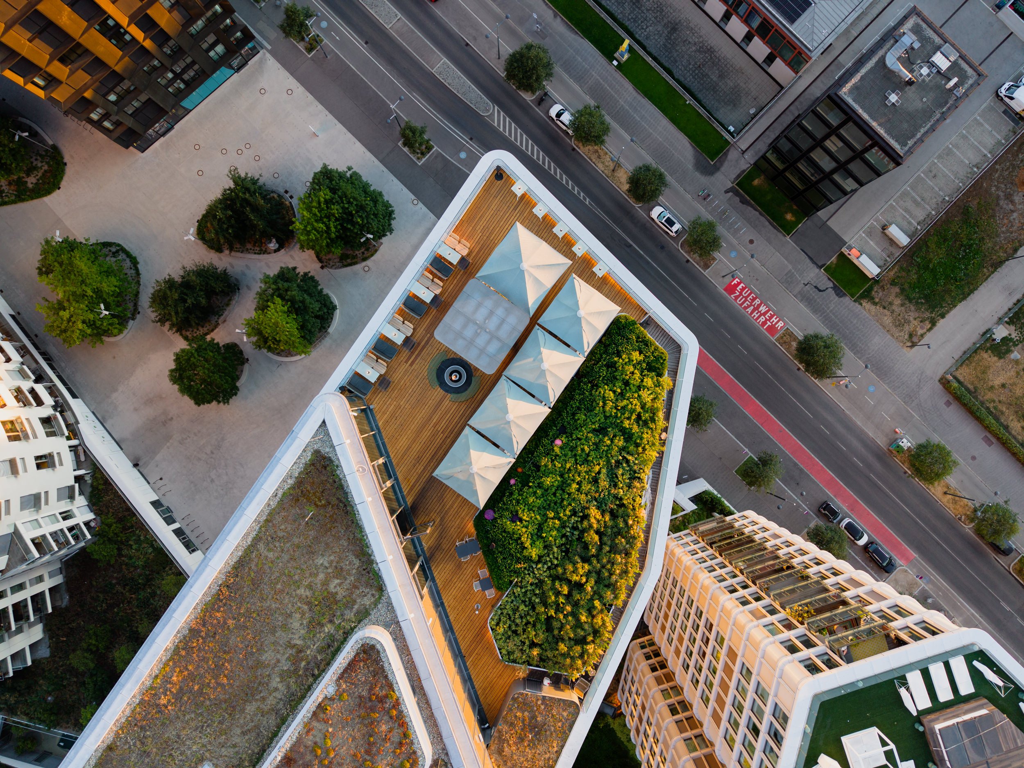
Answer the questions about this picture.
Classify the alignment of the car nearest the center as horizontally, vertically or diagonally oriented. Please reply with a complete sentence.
The car nearest the center is laid out diagonally.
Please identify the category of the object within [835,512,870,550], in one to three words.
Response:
car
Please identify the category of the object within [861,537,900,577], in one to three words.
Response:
car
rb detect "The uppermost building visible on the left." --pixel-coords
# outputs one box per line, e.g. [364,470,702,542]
[0,0,258,156]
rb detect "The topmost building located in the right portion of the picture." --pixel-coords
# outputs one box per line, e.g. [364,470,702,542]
[691,0,873,88]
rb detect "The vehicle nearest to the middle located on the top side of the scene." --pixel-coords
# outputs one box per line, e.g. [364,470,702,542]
[646,202,686,241]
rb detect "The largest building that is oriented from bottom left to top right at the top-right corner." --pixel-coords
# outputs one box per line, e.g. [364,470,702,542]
[752,5,988,218]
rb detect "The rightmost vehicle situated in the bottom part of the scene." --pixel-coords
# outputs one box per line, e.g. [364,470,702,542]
[979,531,1018,565]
